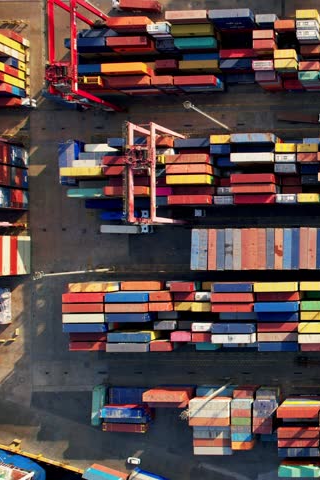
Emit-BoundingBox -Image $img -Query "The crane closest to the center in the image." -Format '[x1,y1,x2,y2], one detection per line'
[121,115,195,226]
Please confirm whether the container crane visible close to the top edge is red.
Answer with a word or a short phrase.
Yes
